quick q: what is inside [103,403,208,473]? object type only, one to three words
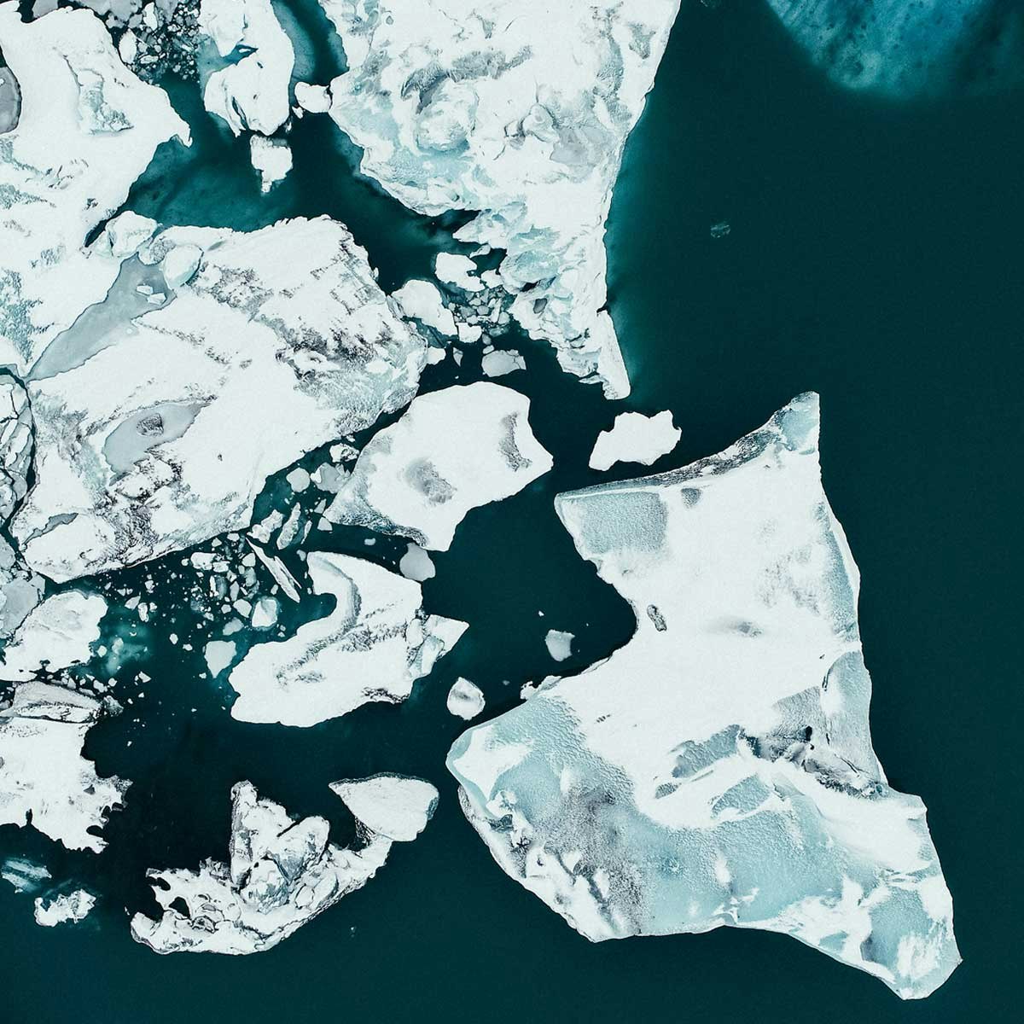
pond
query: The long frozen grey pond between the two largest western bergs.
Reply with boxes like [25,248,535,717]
[25,253,175,382]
